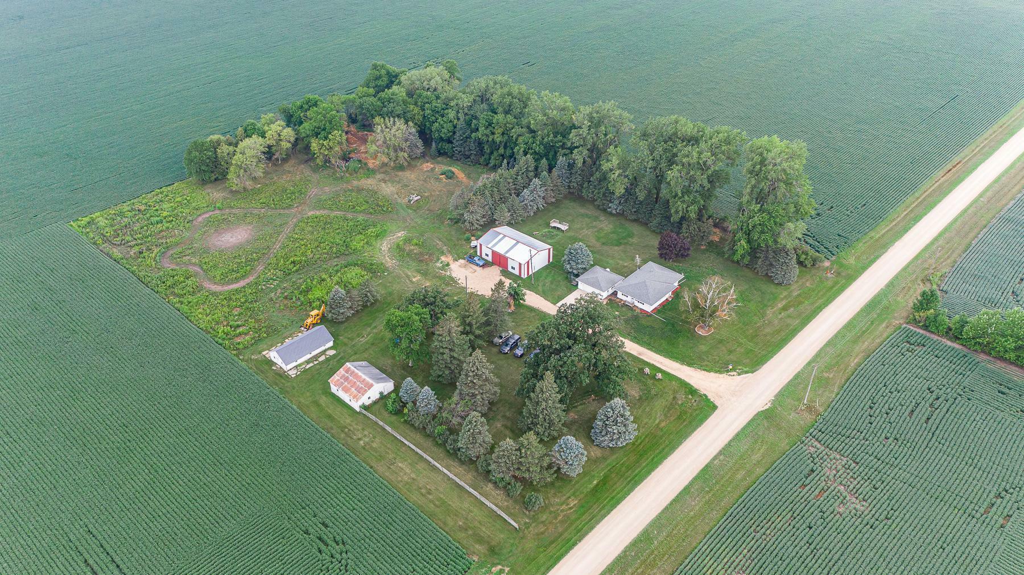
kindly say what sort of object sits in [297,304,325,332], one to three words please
work vehicle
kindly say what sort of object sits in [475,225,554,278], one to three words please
barn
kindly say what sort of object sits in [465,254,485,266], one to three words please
vehicle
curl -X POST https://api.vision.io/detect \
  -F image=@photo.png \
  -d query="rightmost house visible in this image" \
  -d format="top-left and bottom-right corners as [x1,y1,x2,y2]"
[611,261,685,313]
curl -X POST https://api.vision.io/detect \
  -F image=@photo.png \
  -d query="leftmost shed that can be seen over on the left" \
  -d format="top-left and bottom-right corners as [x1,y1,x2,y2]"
[267,326,334,370]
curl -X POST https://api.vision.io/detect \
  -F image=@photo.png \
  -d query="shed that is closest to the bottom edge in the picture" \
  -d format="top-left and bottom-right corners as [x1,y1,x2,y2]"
[328,359,394,410]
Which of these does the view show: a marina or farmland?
farmland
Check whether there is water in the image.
No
